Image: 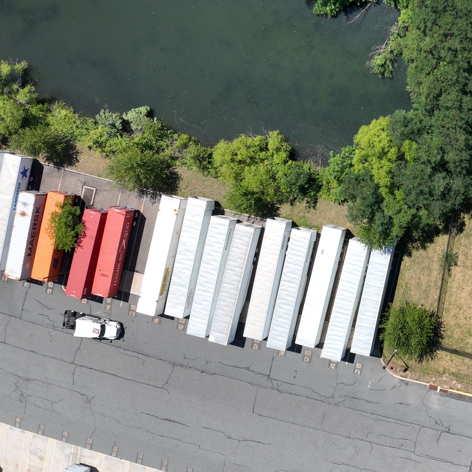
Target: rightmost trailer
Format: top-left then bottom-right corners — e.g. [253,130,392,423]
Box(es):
[350,237,400,357]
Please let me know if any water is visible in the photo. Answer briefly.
Yes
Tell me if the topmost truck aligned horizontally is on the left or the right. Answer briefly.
left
